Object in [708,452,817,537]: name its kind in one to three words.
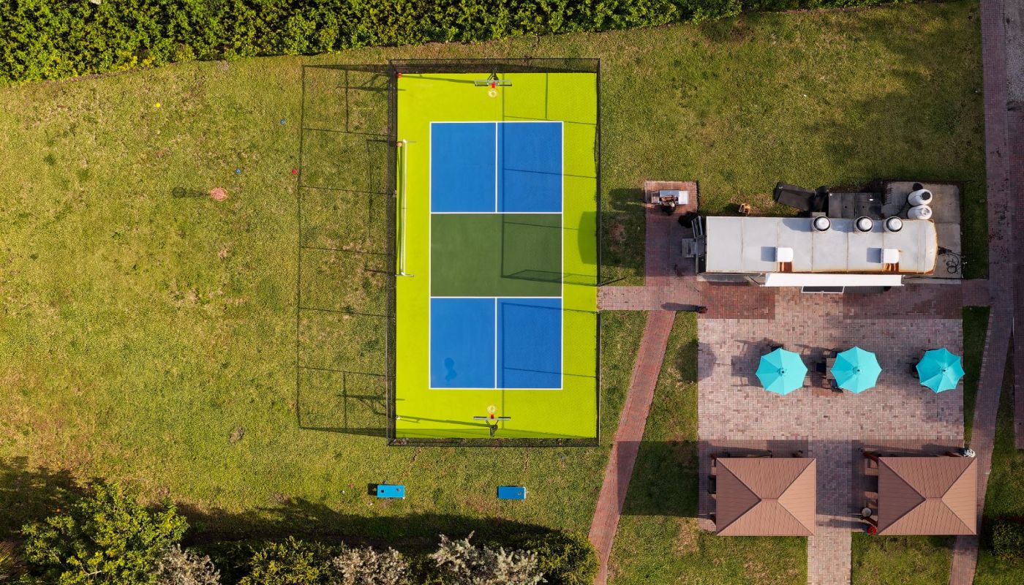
gazebo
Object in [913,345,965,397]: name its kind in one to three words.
umbrella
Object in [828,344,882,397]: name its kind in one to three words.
umbrella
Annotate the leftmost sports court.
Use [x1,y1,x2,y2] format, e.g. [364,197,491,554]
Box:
[397,73,597,438]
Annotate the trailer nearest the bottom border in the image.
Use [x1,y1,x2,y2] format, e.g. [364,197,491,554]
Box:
[693,214,948,286]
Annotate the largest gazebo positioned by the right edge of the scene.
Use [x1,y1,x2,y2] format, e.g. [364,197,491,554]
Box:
[862,451,978,536]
